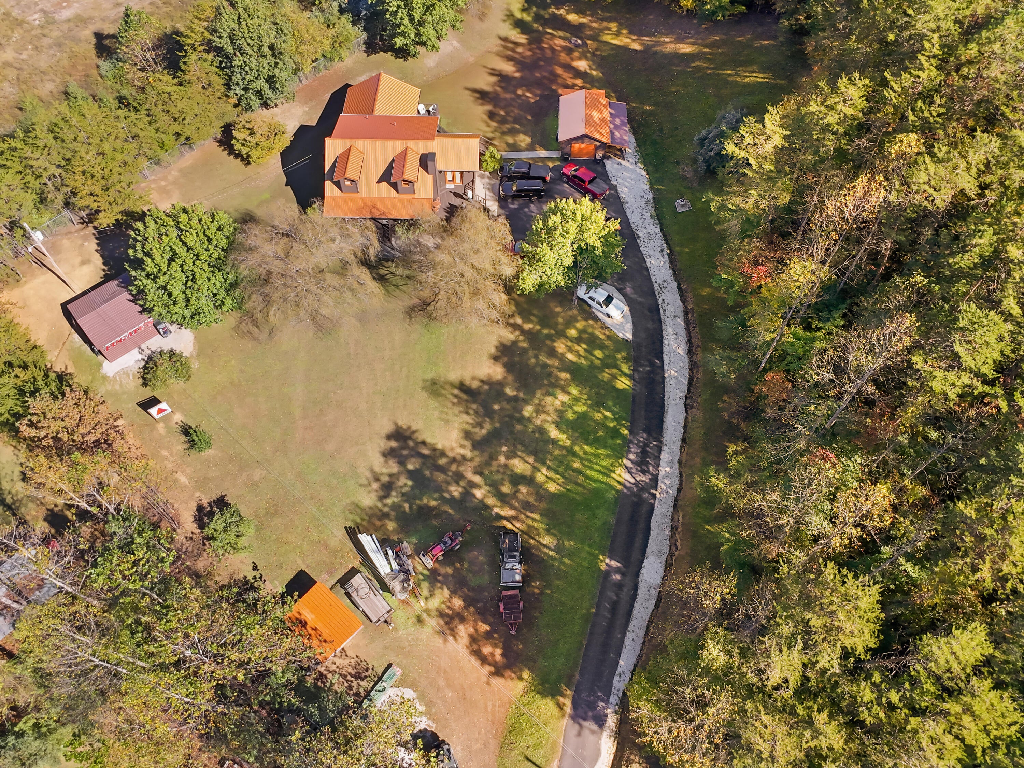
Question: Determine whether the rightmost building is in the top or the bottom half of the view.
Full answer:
The rightmost building is in the top half of the image.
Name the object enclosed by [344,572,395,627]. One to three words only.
trailer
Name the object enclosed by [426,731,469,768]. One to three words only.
truck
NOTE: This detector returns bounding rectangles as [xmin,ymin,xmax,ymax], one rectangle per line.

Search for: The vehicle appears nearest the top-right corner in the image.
[556,167,614,200]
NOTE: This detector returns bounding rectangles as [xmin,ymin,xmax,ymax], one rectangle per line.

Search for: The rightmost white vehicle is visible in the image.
[573,280,629,316]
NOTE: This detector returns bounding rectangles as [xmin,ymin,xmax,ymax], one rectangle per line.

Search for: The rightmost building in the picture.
[558,87,629,162]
